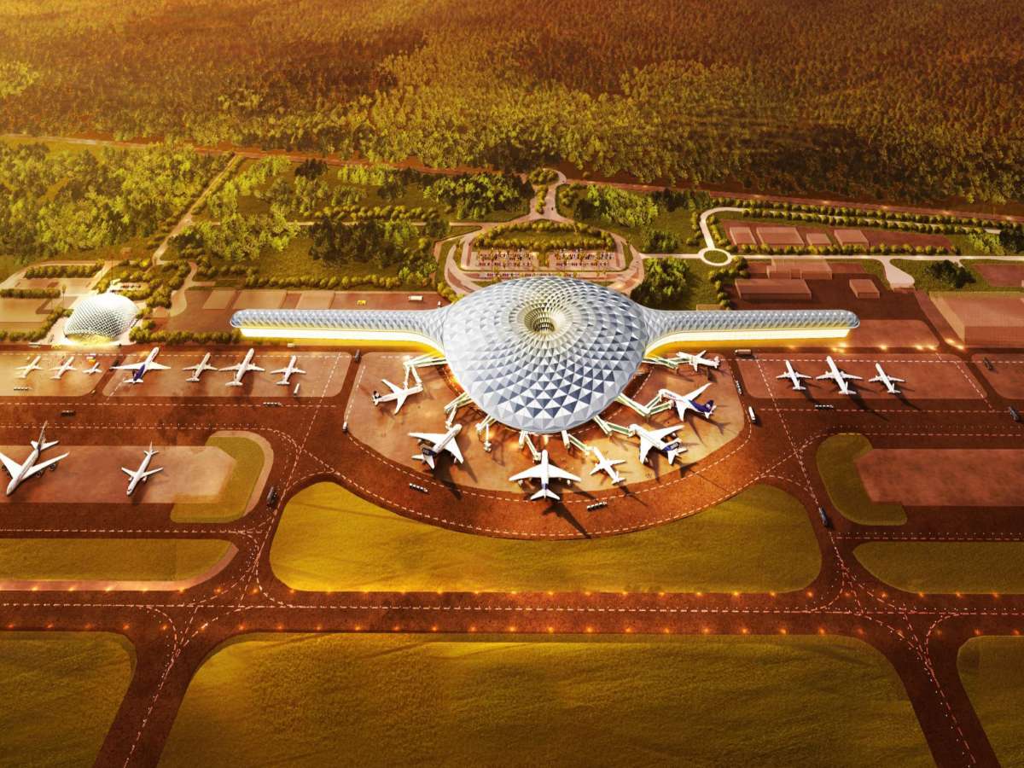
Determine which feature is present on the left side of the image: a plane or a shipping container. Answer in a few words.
plane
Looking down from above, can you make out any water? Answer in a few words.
No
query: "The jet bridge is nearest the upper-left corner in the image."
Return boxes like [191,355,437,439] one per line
[403,351,444,389]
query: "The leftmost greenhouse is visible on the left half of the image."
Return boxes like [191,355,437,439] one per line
[65,295,141,340]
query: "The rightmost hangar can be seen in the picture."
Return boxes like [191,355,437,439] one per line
[925,291,1024,345]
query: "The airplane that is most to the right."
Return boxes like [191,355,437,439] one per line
[865,363,908,393]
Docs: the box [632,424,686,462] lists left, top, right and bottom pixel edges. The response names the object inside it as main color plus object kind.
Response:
white airplane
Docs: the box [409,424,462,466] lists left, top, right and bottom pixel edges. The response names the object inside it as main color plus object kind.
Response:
white airplane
